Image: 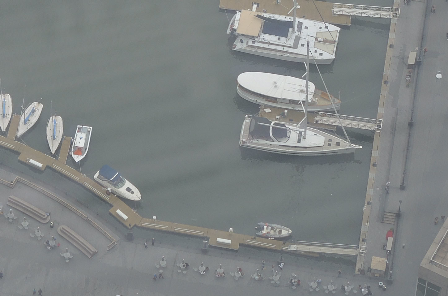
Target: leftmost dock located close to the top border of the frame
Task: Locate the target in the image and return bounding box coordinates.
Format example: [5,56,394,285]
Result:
[219,0,352,28]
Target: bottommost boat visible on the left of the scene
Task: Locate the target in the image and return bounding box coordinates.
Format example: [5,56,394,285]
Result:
[91,168,140,203]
